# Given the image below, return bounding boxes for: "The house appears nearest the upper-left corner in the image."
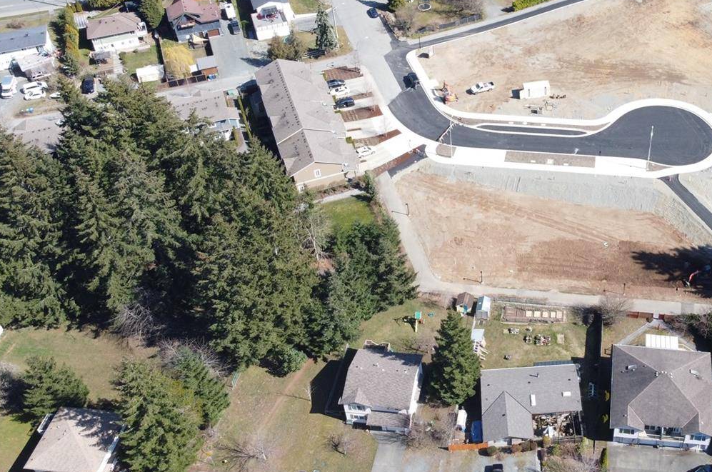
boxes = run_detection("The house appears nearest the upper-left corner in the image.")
[0,25,59,80]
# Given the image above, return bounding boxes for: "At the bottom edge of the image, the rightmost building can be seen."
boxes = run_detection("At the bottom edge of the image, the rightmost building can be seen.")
[609,337,712,460]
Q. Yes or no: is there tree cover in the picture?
Yes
